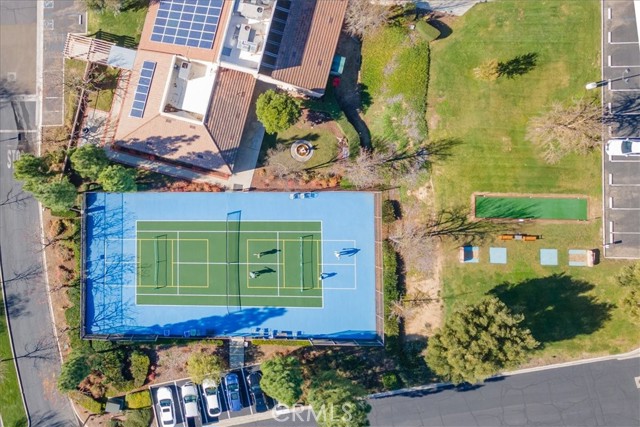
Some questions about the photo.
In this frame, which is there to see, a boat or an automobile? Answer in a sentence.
Looking from above, you can make out an automobile.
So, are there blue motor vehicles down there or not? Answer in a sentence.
Yes, there's a blue motor vehicle down there.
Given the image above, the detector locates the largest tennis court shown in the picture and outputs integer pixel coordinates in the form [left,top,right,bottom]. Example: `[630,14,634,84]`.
[84,191,378,341]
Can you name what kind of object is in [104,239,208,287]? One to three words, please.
sports court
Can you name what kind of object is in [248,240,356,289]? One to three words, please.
sports court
